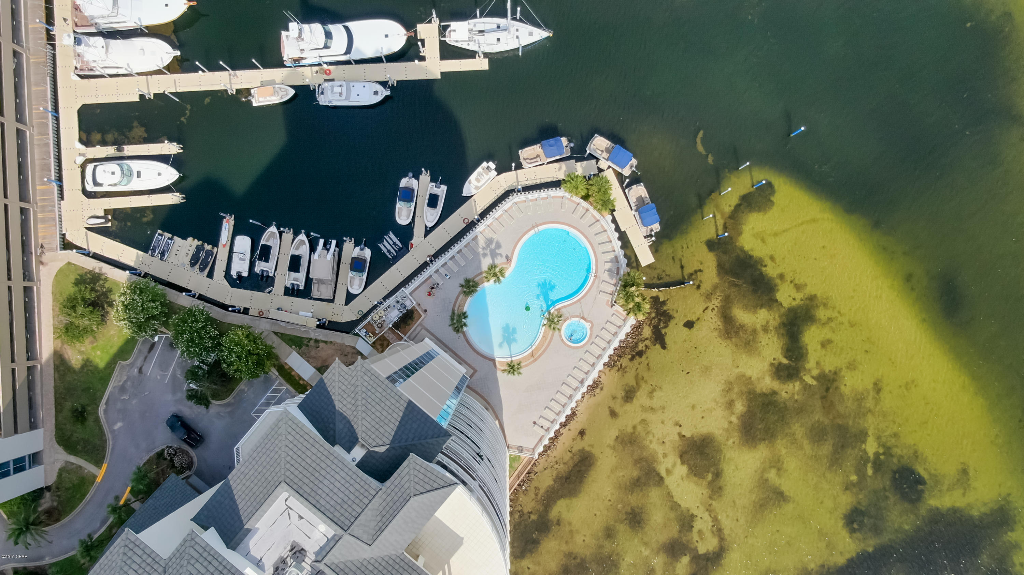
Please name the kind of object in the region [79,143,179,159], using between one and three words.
pier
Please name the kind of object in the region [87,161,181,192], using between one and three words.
boat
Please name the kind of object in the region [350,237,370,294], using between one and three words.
boat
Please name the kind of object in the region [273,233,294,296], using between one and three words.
pier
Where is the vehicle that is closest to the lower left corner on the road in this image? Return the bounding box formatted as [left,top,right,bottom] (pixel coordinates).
[164,412,206,450]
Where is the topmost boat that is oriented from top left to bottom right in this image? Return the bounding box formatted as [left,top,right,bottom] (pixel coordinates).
[587,136,641,177]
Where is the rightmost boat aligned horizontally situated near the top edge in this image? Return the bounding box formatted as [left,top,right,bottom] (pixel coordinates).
[435,0,553,51]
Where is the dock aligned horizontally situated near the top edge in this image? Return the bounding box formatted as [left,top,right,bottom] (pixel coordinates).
[74,24,488,109]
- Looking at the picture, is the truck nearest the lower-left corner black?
Yes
